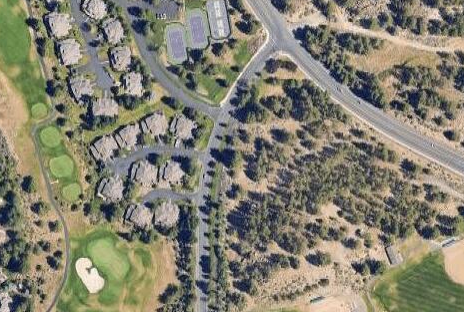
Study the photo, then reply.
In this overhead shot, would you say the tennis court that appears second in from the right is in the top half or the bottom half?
top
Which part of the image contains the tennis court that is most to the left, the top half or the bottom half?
top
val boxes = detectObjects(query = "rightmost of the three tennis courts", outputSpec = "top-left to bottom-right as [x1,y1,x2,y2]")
[205,0,232,41]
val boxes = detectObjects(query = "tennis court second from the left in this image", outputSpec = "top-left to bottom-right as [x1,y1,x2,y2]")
[186,7,211,50]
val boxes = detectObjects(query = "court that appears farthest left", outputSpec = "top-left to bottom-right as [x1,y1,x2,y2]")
[165,22,190,66]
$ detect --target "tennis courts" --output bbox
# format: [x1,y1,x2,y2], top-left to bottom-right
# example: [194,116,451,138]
[186,7,211,50]
[165,22,190,66]
[205,0,232,41]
